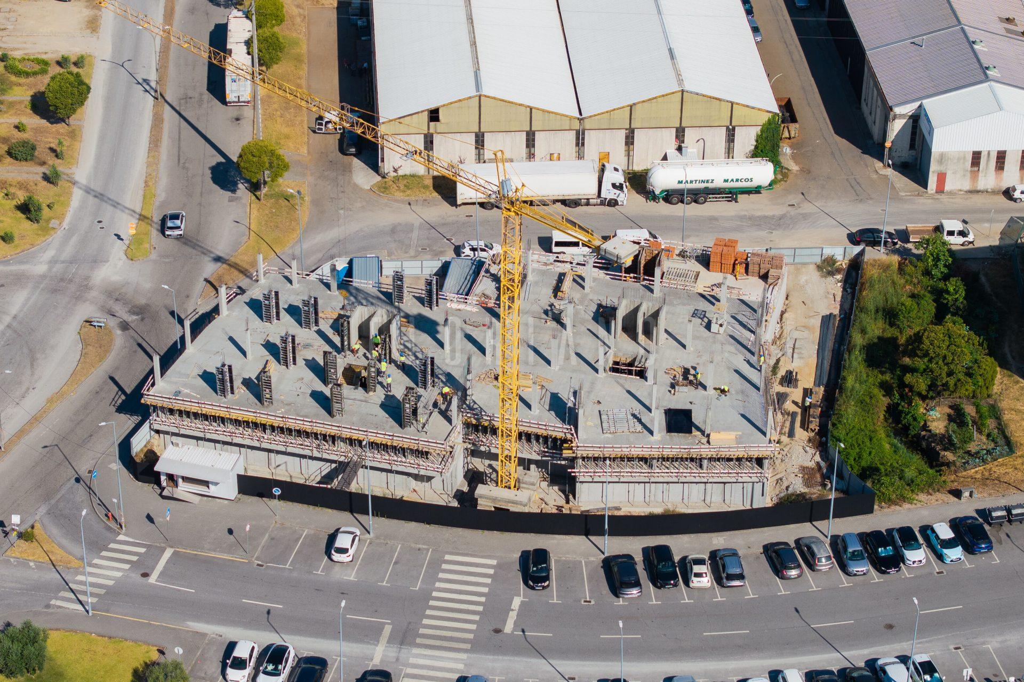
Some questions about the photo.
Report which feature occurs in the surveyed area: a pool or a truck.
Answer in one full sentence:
The one in the frame is a truck.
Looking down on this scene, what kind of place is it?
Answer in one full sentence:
The area seen from above is an industrial area.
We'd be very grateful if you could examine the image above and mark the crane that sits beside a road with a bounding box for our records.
[96,0,640,490]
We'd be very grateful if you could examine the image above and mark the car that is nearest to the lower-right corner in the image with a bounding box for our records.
[910,653,948,682]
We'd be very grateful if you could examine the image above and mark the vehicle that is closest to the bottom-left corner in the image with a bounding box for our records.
[225,642,256,682]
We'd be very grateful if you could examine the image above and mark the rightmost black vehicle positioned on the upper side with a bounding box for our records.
[852,225,899,248]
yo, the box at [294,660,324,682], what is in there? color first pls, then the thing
black car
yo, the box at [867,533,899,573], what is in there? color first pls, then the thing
black car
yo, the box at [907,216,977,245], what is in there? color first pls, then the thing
white truck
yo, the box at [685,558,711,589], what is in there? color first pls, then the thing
white car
